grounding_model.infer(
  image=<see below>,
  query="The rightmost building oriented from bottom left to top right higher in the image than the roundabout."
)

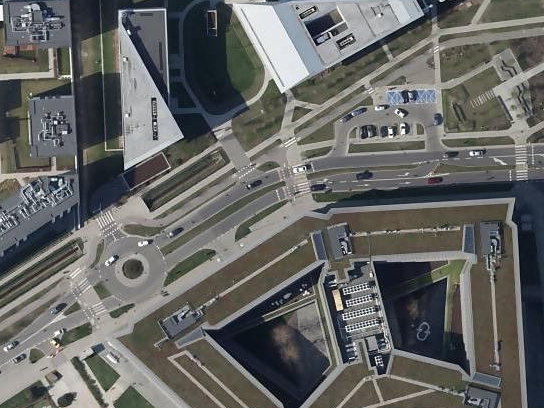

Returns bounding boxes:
[128,152,170,192]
